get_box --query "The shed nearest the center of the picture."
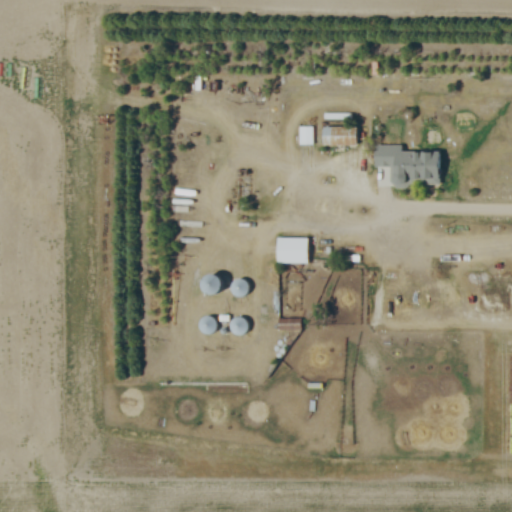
[277,237,308,264]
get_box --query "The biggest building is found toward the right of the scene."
[375,144,442,188]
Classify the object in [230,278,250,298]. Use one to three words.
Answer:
silo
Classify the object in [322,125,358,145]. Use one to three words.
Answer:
barn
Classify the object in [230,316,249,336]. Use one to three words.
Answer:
silo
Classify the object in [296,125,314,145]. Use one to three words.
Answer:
shed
